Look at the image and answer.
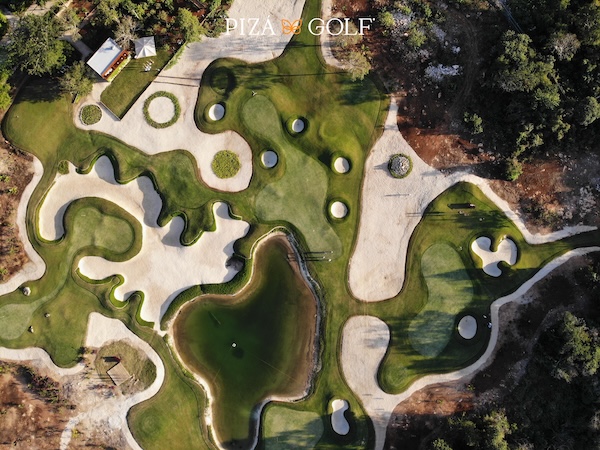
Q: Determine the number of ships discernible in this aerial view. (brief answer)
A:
0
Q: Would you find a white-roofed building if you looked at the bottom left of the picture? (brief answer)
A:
No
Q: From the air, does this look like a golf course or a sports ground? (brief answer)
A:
golf course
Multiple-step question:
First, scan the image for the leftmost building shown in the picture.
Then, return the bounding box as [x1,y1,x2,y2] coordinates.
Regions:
[84,36,131,83]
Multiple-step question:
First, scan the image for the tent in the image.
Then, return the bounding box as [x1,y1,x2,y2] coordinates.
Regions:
[134,37,159,61]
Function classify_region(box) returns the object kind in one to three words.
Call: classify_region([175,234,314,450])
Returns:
pond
